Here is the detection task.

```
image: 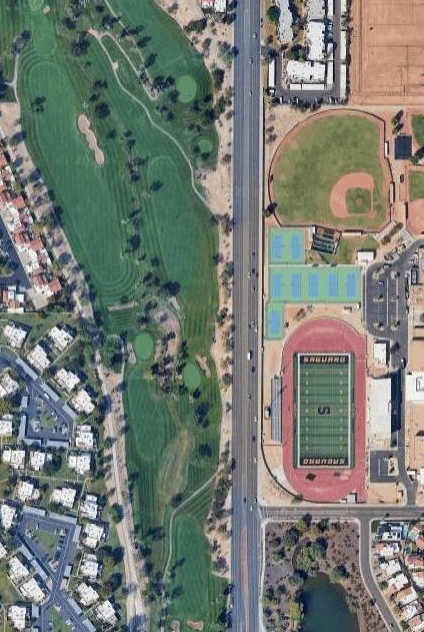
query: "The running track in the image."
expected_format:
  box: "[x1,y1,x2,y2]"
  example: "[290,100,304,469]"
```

[283,317,366,502]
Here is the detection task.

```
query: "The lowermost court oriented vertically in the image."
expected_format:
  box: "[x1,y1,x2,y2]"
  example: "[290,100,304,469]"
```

[267,303,284,340]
